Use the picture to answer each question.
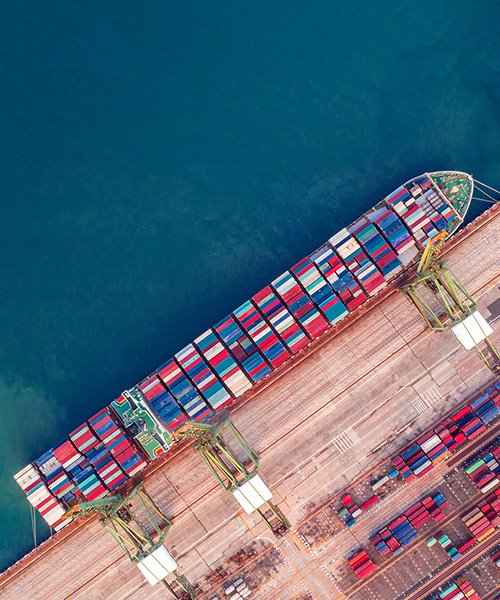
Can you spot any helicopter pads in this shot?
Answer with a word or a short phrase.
No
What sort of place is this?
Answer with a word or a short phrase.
port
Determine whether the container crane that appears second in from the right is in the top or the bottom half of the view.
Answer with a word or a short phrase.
bottom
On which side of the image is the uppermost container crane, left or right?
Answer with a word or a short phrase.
right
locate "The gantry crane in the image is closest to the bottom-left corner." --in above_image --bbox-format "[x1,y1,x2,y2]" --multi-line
[62,478,190,600]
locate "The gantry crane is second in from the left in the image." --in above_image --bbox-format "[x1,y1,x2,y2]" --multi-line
[170,412,285,533]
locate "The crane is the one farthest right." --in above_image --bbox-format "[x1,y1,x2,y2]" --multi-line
[398,230,500,369]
